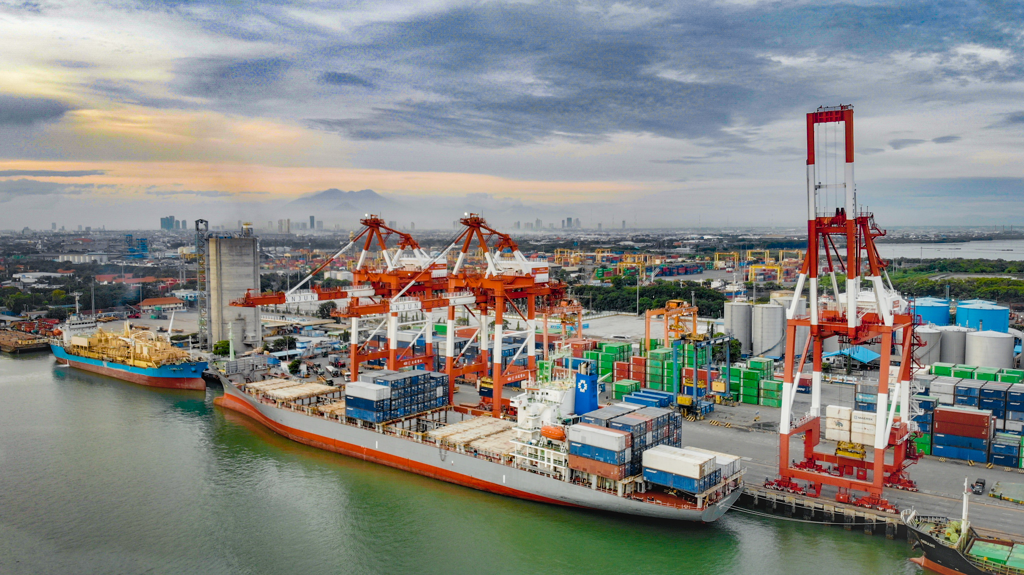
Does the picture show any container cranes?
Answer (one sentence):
Yes, there is a container crane in the image.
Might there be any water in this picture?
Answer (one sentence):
Yes, some water is visible.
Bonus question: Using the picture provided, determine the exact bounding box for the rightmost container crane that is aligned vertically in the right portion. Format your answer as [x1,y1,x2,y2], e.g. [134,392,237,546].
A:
[759,98,927,513]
